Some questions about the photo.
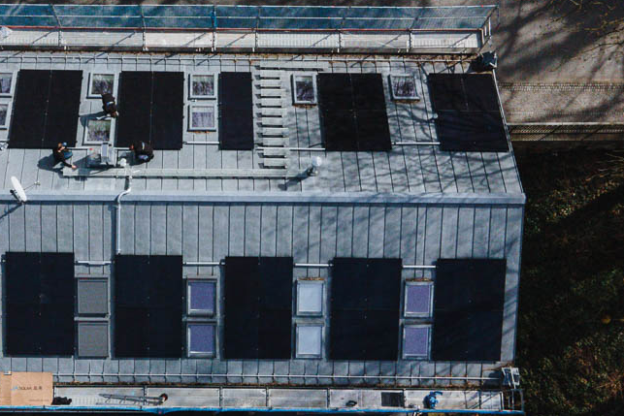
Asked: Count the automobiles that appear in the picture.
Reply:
zero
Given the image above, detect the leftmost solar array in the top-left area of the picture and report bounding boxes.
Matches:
[9,70,85,149]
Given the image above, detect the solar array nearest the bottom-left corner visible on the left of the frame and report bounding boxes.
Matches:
[6,252,75,356]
